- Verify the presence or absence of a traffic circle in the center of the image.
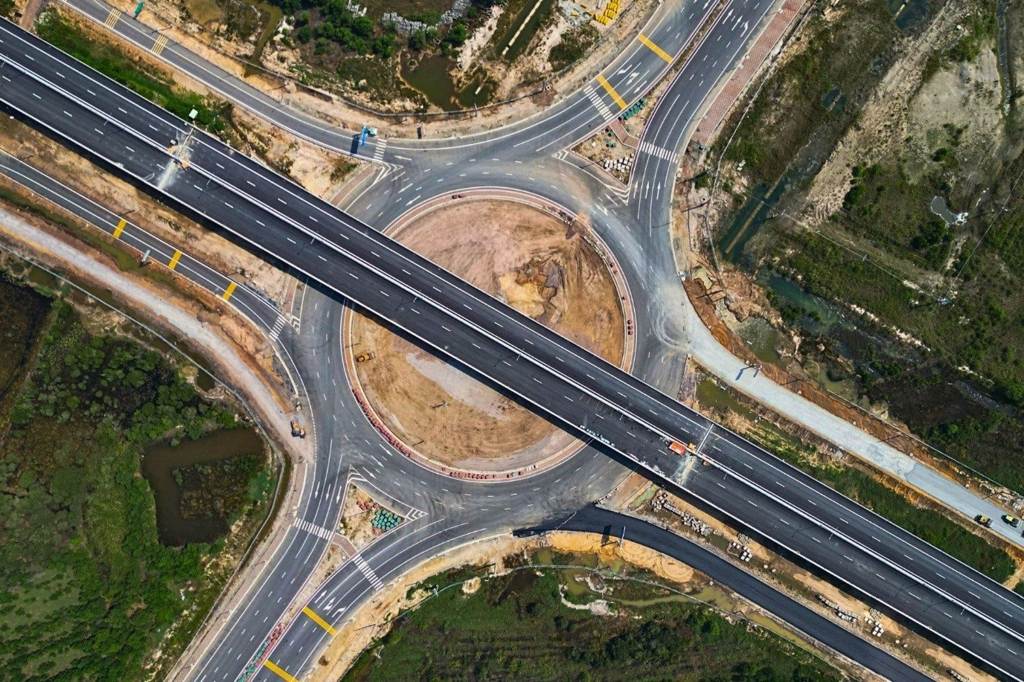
Yes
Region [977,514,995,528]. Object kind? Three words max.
work vehicle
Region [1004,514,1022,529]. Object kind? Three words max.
work vehicle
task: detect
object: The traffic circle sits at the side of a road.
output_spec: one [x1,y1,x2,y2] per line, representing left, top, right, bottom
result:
[289,151,687,530]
